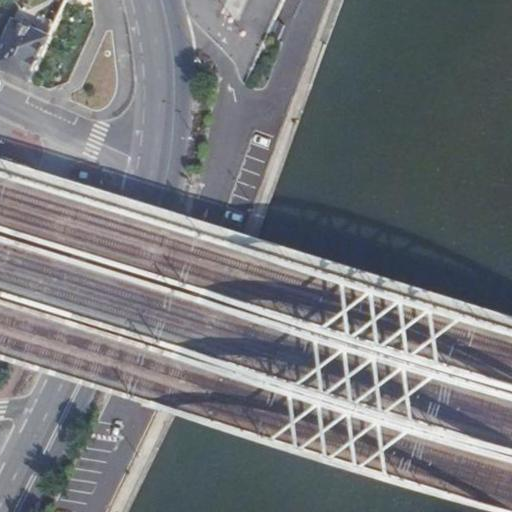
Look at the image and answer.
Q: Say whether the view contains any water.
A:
Yes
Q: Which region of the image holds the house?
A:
top left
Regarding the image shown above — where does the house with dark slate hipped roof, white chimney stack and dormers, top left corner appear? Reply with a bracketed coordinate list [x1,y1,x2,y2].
[0,8,50,62]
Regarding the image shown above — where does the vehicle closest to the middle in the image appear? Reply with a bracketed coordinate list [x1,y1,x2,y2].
[224,209,244,221]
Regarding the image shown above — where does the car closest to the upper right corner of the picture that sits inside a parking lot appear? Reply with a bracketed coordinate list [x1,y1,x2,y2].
[252,134,272,148]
